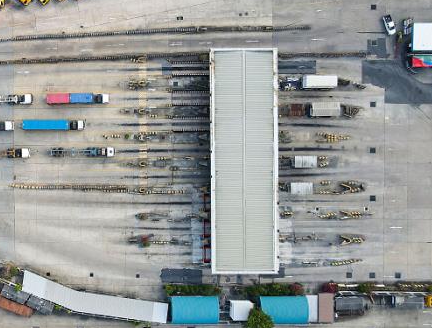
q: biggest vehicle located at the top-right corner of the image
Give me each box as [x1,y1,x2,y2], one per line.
[381,15,394,35]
